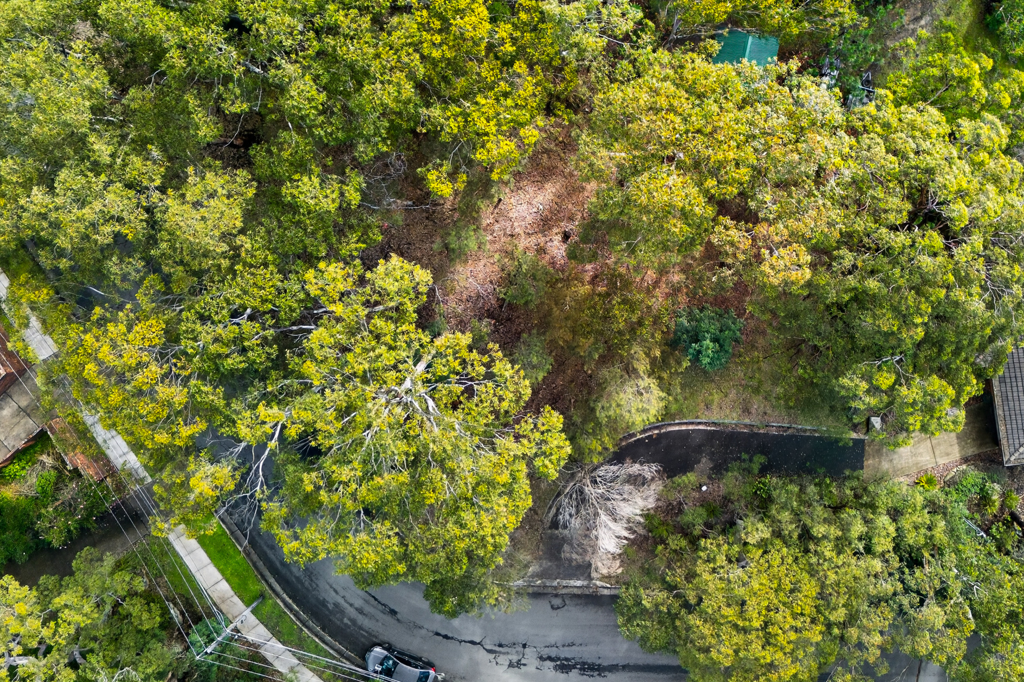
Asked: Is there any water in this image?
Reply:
No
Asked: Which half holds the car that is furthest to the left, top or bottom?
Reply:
bottom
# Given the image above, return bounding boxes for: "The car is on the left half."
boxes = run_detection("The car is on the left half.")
[367,646,434,682]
